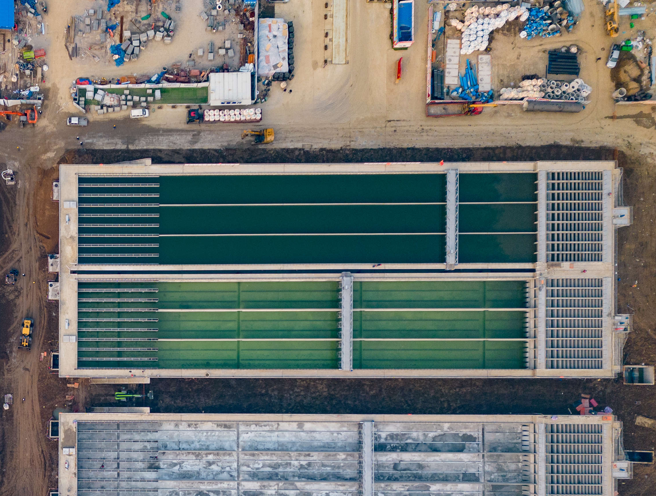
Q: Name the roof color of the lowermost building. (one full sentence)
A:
From above, the roof of the lowermost building looks white.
